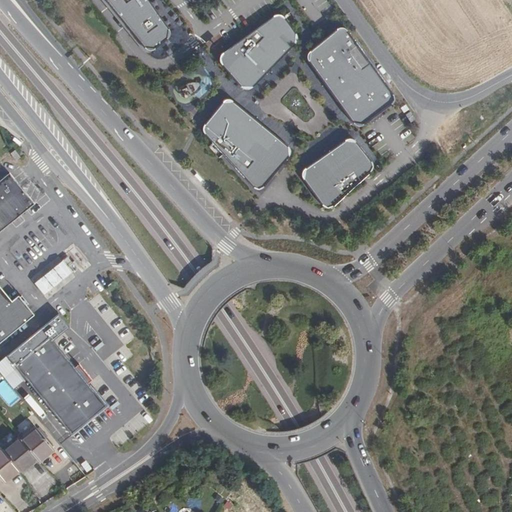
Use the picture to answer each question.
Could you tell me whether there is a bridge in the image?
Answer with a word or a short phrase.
Yes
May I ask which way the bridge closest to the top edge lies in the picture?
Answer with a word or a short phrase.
on a diagonal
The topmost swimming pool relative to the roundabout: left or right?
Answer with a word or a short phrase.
on its left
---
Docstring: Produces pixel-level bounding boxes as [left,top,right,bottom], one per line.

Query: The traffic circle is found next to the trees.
[172,252,382,462]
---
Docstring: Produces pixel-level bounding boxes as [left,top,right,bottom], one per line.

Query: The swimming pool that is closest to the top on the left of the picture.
[0,378,22,408]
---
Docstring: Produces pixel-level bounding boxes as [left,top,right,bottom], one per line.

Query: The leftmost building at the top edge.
[108,0,170,50]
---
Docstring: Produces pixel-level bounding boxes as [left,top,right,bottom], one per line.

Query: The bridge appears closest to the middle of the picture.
[164,252,249,352]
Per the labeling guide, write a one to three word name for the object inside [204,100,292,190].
building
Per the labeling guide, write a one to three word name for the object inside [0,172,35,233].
building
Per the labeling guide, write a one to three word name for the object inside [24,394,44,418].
vehicle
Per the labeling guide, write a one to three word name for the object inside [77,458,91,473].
vehicle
